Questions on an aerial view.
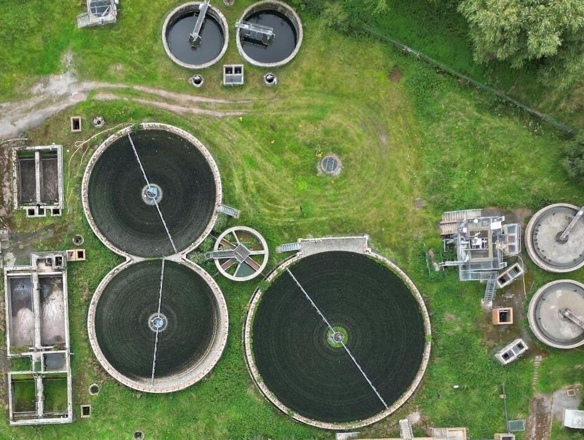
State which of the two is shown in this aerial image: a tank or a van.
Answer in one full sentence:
This aerial view contains a tank.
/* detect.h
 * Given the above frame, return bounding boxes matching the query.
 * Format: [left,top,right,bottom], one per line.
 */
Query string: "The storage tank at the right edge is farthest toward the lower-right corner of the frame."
[525,278,584,350]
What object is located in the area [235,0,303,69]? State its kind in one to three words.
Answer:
storage tank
